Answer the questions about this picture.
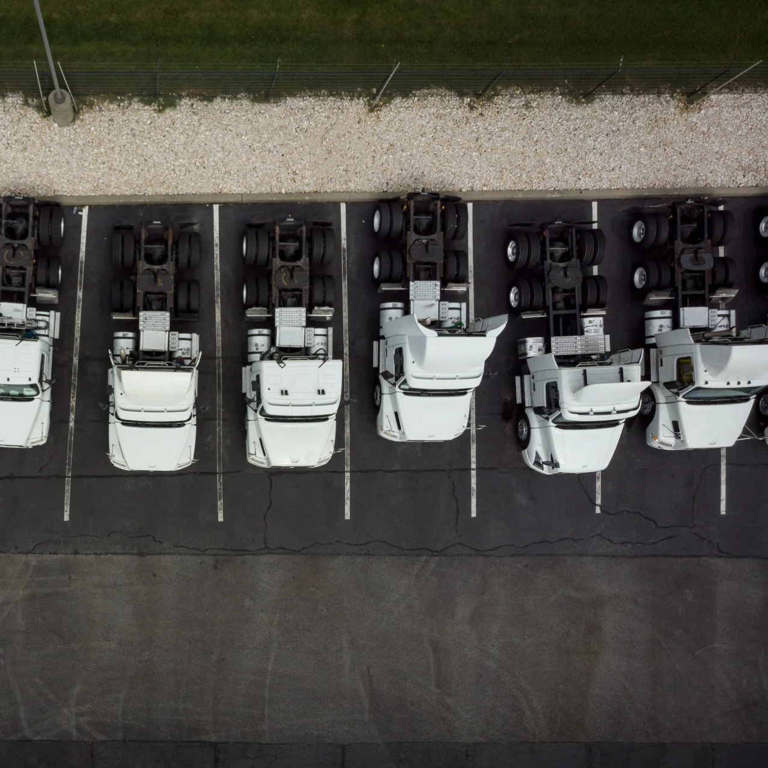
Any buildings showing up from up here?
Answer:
No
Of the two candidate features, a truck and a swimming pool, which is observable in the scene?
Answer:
truck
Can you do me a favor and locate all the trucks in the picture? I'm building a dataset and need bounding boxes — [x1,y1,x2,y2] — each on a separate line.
[504,217,649,477]
[242,213,356,471]
[0,191,65,450]
[630,195,768,453]
[97,216,210,474]
[373,186,506,446]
